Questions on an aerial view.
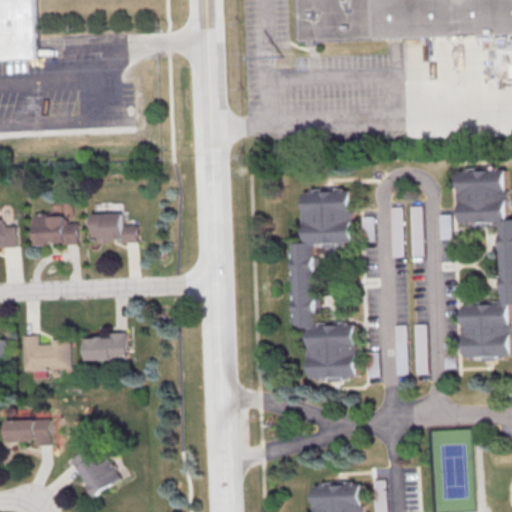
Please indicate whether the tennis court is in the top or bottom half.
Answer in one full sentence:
The bottom half of the photo is where the tennis court is.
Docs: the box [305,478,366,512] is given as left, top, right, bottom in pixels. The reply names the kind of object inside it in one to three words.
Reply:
building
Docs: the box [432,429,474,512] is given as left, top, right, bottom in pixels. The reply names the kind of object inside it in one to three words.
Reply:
tennis court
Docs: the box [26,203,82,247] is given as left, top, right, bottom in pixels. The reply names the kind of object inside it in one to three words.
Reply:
house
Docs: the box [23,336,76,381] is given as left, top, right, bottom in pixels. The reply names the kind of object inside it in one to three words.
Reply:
house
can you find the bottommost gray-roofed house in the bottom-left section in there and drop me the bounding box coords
[72,453,124,496]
